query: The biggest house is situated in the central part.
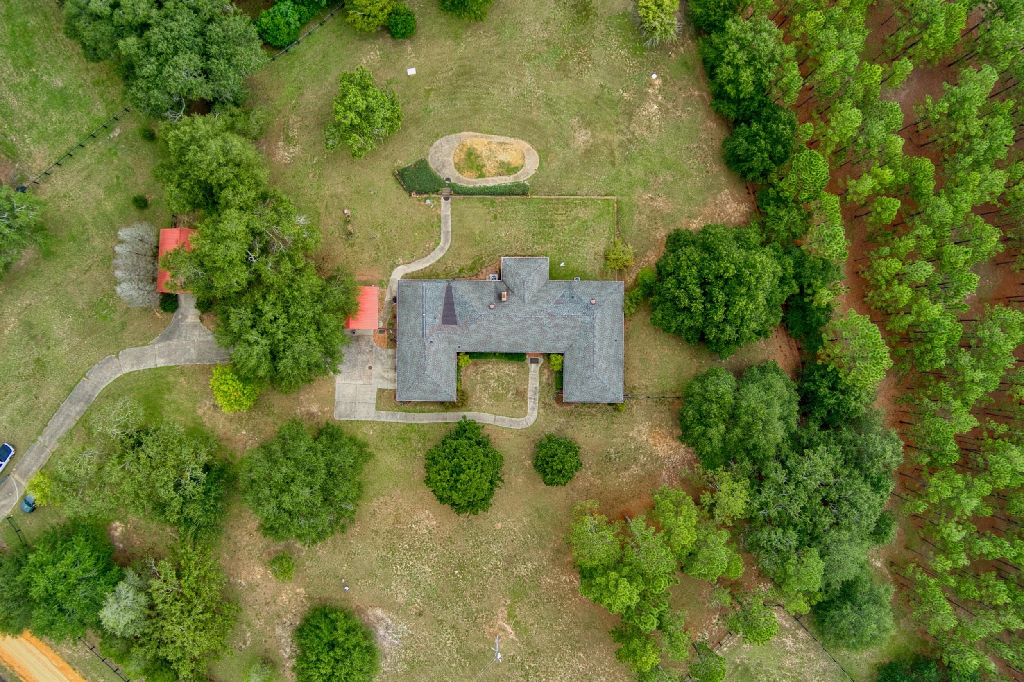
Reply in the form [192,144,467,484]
[396,257,624,403]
